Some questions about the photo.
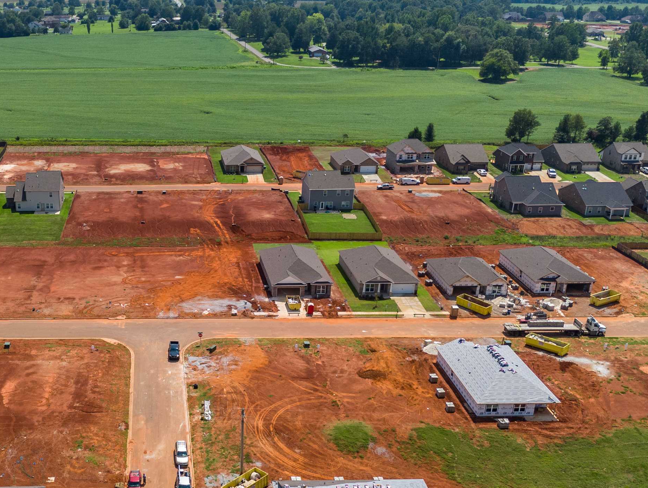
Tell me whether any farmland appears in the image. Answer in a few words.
Yes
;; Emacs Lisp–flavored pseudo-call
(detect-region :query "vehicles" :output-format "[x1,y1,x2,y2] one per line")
[167,341,181,358]
[518,306,545,322]
[545,169,559,177]
[476,169,491,176]
[376,181,395,188]
[175,466,193,488]
[499,313,601,335]
[126,466,143,488]
[399,177,418,185]
[173,438,190,463]
[450,176,471,184]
